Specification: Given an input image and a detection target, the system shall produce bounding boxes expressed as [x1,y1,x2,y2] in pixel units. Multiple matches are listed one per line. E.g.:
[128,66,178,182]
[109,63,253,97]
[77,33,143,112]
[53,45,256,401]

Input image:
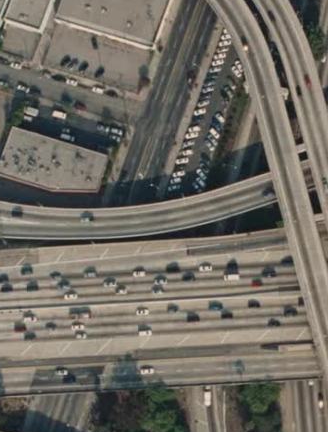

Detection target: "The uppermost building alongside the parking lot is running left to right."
[55,0,172,48]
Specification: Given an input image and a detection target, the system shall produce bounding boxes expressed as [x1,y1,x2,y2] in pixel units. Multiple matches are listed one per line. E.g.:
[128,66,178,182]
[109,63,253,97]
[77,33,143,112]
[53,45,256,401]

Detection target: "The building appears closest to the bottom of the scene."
[0,127,109,192]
